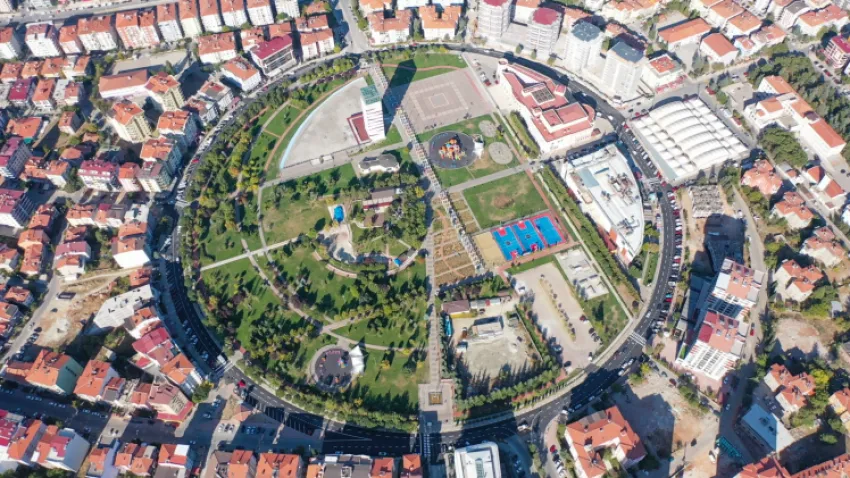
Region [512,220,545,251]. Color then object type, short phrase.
blue basketball court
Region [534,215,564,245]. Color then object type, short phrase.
blue sports court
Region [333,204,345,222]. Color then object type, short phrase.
blue swimming pool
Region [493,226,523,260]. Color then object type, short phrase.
blue basketball court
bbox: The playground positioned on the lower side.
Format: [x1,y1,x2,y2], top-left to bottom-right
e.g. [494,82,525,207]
[310,344,356,389]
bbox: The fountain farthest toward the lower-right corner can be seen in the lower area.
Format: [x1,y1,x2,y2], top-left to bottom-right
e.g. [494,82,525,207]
[427,388,443,406]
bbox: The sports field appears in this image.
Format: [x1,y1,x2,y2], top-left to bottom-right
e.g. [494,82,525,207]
[463,171,548,227]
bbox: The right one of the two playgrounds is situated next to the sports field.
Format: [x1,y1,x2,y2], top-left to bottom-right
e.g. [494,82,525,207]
[426,130,477,169]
